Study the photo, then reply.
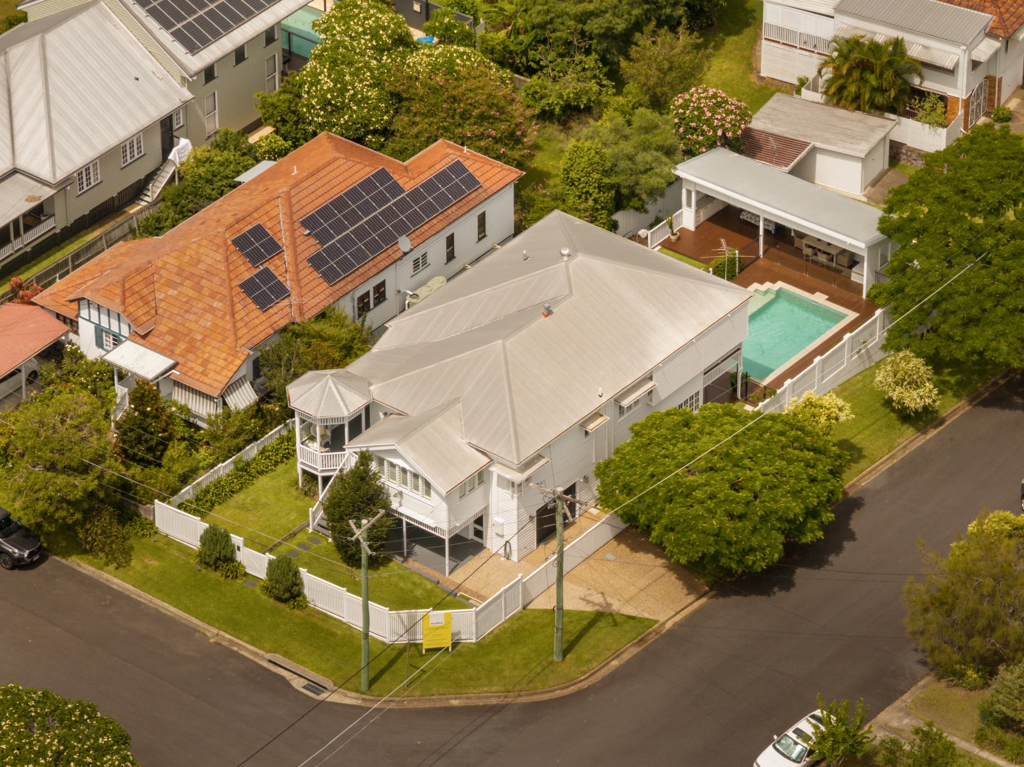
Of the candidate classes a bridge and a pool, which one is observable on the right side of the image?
pool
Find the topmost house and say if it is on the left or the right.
right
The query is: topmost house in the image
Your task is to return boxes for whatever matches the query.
[752,0,1024,132]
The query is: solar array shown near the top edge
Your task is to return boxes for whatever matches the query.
[128,0,265,48]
